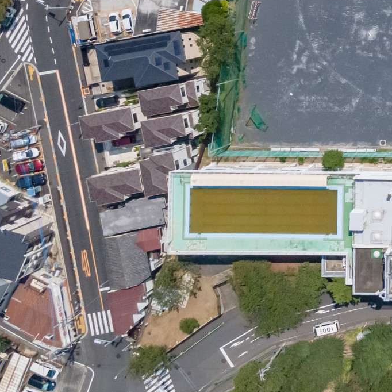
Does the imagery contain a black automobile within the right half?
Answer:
No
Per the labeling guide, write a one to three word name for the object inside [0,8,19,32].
car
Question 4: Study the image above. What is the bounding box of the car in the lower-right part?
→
[313,319,341,335]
